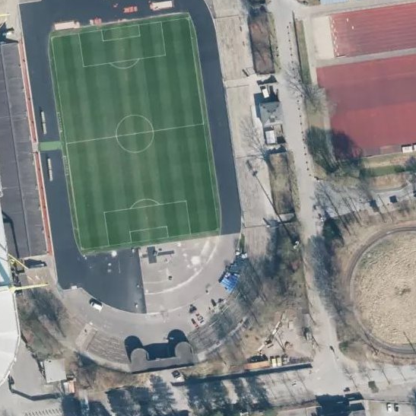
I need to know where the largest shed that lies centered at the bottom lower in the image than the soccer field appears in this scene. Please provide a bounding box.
[184,364,313,386]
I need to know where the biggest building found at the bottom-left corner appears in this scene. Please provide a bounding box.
[42,358,67,383]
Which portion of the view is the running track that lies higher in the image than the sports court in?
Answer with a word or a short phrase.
top right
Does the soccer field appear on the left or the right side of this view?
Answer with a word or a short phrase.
left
